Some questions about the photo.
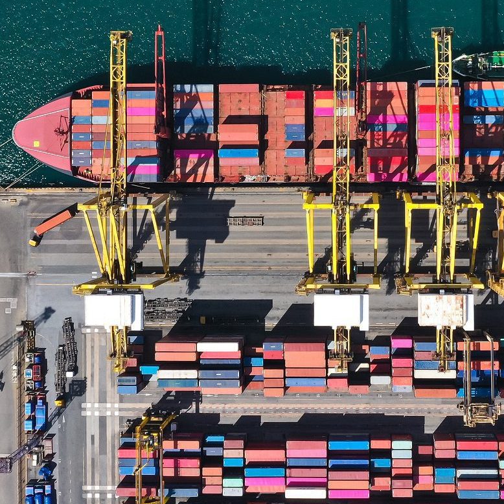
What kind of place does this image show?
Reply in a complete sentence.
What you see here is a port.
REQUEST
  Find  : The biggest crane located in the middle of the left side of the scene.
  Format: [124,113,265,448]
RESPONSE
[72,20,182,386]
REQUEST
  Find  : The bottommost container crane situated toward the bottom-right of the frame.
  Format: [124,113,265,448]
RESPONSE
[456,325,500,433]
